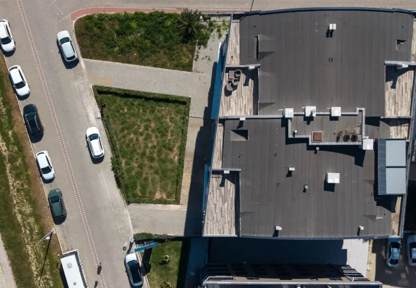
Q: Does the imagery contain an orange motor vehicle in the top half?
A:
No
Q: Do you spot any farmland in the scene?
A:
No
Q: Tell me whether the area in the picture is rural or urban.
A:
urban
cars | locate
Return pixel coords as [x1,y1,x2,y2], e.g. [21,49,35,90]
[36,150,55,182]
[405,234,416,266]
[125,251,144,288]
[47,188,66,221]
[0,19,15,54]
[57,32,77,64]
[386,236,402,268]
[23,104,43,138]
[85,126,104,160]
[8,64,29,98]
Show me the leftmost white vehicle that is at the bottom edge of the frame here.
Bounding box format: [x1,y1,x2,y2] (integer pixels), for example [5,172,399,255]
[58,244,88,288]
